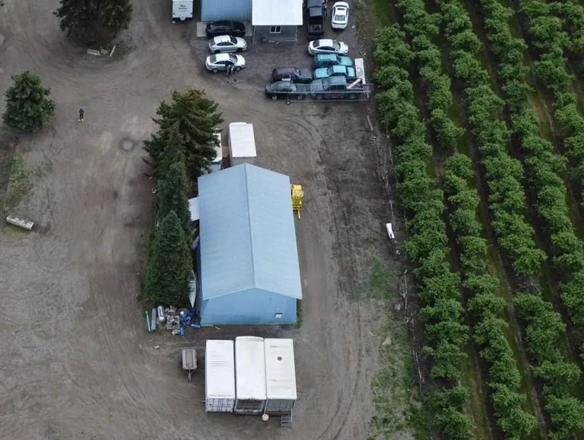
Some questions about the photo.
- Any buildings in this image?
Yes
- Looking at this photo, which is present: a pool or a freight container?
freight container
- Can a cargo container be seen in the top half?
No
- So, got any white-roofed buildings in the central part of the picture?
No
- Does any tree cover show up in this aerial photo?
Yes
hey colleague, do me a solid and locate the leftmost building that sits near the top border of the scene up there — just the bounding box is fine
[201,0,252,21]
